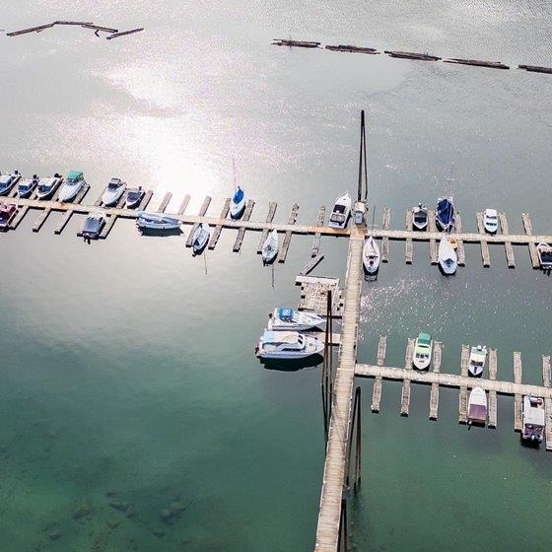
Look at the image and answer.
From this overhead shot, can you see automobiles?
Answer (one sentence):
No, there appears to be no automobile in this shot.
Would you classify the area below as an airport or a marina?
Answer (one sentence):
It's a marina.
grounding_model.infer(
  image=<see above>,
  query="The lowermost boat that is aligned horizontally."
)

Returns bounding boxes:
[256,329,325,358]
